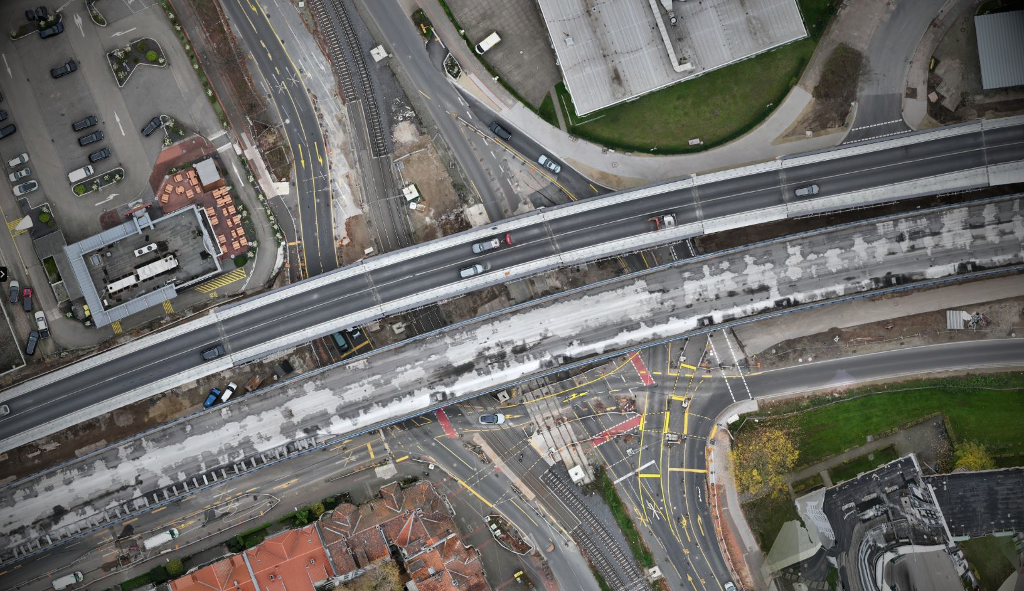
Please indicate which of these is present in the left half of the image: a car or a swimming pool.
car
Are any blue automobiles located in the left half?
Yes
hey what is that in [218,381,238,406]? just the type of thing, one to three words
vehicle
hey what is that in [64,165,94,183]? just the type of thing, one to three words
vehicle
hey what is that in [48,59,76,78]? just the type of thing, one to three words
car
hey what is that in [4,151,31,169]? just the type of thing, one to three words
car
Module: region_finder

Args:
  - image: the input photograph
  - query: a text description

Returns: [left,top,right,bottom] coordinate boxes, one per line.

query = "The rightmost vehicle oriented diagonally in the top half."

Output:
[536,152,562,175]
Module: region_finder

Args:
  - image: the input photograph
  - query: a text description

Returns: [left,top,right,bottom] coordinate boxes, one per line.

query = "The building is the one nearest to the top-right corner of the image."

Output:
[967,7,1024,93]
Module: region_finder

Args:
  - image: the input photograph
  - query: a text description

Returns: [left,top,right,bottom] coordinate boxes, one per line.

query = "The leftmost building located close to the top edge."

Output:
[536,0,807,119]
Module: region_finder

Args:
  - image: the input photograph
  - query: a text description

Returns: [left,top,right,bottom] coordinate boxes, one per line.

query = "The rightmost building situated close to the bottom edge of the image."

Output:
[796,449,1024,591]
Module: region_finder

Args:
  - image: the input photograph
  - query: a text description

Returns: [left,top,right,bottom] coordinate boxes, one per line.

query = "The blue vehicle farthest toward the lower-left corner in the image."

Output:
[202,384,221,409]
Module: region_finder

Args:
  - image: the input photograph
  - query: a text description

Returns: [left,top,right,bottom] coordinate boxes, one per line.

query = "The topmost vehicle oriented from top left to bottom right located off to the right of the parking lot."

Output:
[487,118,513,141]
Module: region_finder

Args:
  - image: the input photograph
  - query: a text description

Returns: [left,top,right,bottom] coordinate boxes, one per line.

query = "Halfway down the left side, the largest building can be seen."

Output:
[65,200,223,327]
